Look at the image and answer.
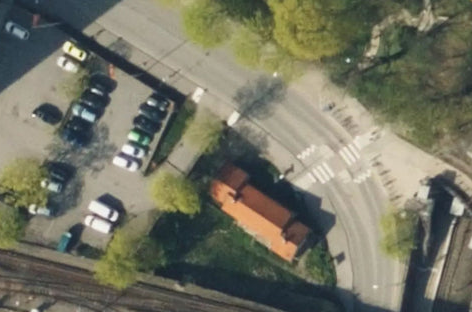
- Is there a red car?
No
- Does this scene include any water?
No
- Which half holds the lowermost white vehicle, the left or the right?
left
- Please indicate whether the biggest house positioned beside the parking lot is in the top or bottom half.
bottom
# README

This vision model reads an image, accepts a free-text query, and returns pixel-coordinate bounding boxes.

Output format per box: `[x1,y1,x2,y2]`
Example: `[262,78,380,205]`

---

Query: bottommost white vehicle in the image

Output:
[83,215,111,235]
